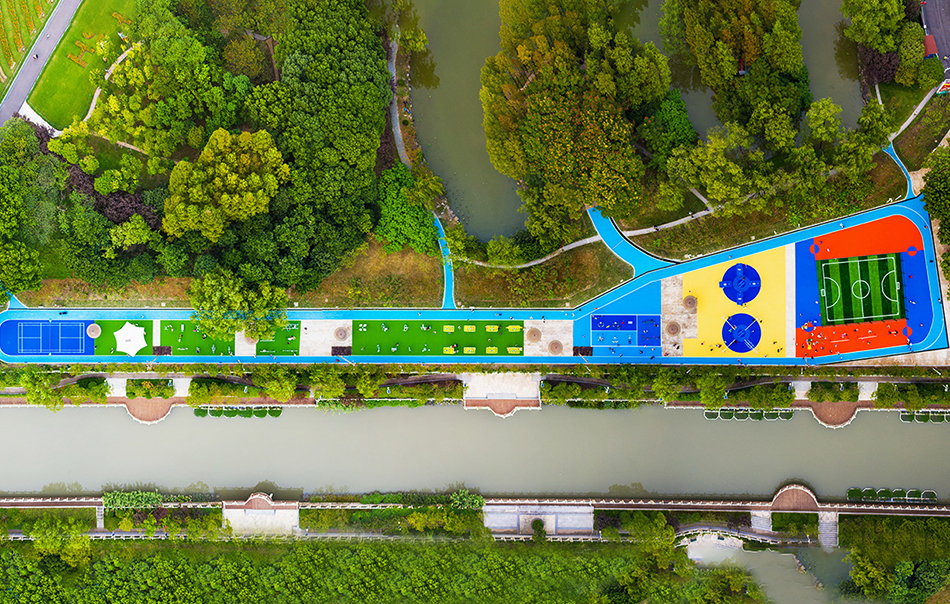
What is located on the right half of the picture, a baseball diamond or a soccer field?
soccer field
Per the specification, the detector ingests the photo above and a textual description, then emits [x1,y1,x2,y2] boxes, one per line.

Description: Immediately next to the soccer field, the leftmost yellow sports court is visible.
[683,245,786,355]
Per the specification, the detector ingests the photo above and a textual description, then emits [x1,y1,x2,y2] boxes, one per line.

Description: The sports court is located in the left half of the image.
[1,320,95,355]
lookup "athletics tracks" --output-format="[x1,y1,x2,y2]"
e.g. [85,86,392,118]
[0,195,948,366]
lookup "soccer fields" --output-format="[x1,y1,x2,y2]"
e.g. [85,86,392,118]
[817,251,912,327]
